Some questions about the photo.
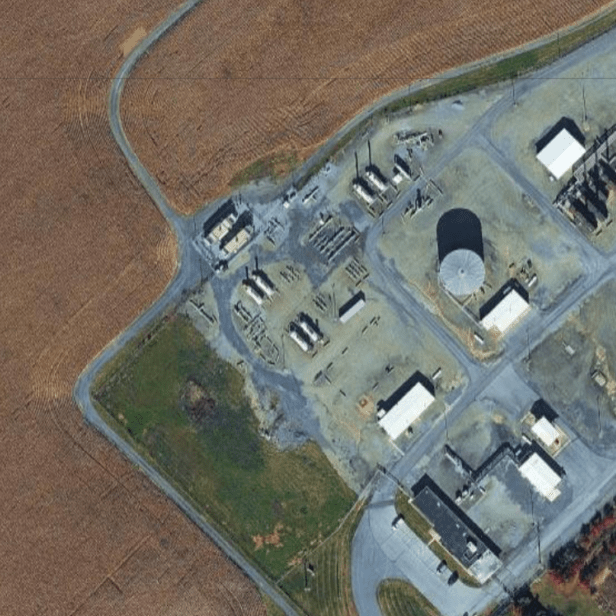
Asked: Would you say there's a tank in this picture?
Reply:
Yes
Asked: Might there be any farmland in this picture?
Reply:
Yes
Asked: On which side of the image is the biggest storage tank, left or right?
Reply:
right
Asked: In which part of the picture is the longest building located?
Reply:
bottom right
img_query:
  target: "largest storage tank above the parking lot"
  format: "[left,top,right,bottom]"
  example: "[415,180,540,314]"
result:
[437,247,487,297]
